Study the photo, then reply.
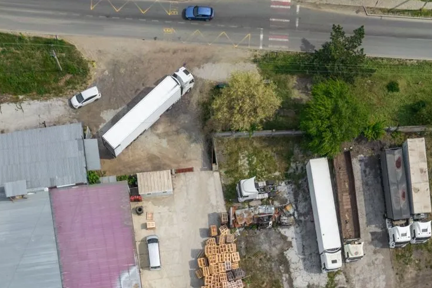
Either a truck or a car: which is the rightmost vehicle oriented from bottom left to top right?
truck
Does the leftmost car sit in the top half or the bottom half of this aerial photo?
top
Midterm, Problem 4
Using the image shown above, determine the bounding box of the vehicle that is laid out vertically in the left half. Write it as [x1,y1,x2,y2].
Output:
[145,234,163,271]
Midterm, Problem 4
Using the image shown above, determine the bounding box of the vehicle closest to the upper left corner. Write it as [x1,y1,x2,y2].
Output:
[71,86,103,109]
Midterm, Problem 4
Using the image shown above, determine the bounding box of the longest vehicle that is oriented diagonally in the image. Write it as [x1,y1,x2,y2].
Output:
[103,61,198,156]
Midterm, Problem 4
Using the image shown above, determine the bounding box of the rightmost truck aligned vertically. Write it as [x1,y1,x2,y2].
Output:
[403,138,432,245]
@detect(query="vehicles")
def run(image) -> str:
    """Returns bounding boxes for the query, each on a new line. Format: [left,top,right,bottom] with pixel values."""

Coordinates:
[183,7,214,22]
[379,147,414,250]
[307,157,344,272]
[403,138,432,245]
[71,86,103,109]
[330,151,367,265]
[103,61,198,156]
[145,234,163,271]
[235,176,276,199]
